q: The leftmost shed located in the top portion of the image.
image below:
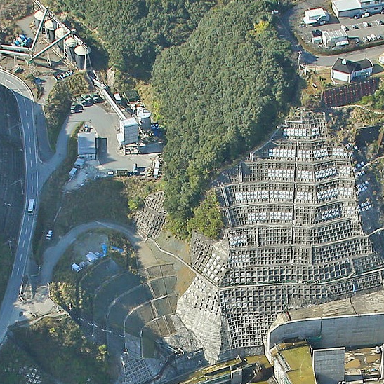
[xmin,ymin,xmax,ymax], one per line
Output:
[77,132,96,163]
